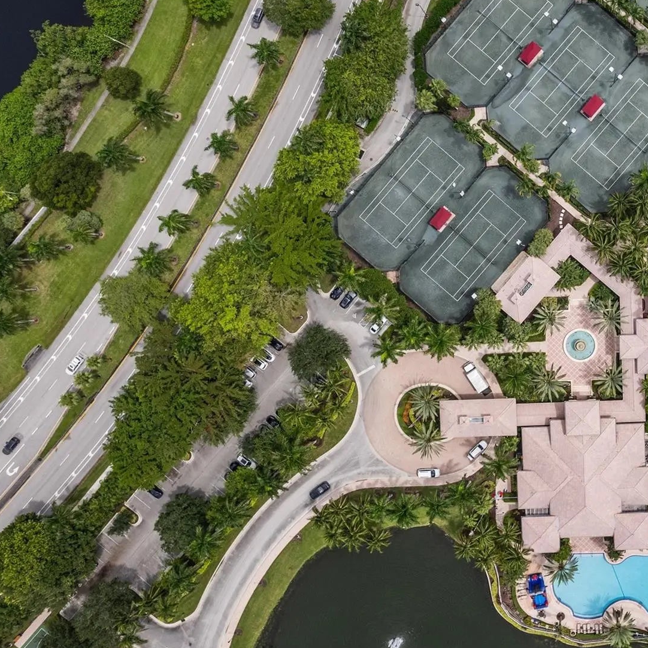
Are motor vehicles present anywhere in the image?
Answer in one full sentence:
Yes, a motor vehicle is visible in the scene.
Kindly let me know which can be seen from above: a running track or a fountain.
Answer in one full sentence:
There is a fountain in the scene.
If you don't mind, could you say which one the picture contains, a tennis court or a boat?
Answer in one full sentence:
It is a tennis court that can be seen here.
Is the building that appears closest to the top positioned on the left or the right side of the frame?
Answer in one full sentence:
The building that appears closest to the top is on the right side of the image.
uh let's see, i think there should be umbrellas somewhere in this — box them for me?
[556,611,565,620]
[537,610,546,619]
